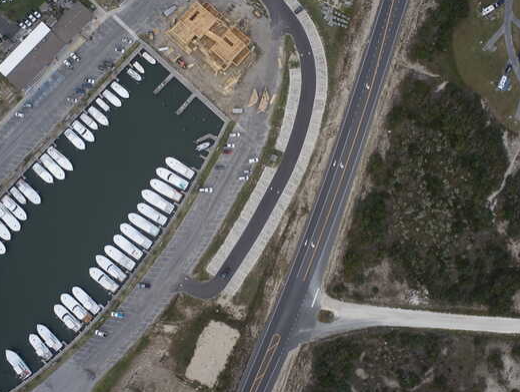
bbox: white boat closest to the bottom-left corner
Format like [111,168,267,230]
[5,350,32,384]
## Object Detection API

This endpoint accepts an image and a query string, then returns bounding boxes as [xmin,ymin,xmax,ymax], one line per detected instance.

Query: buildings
[6,1,91,91]
[165,0,250,68]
